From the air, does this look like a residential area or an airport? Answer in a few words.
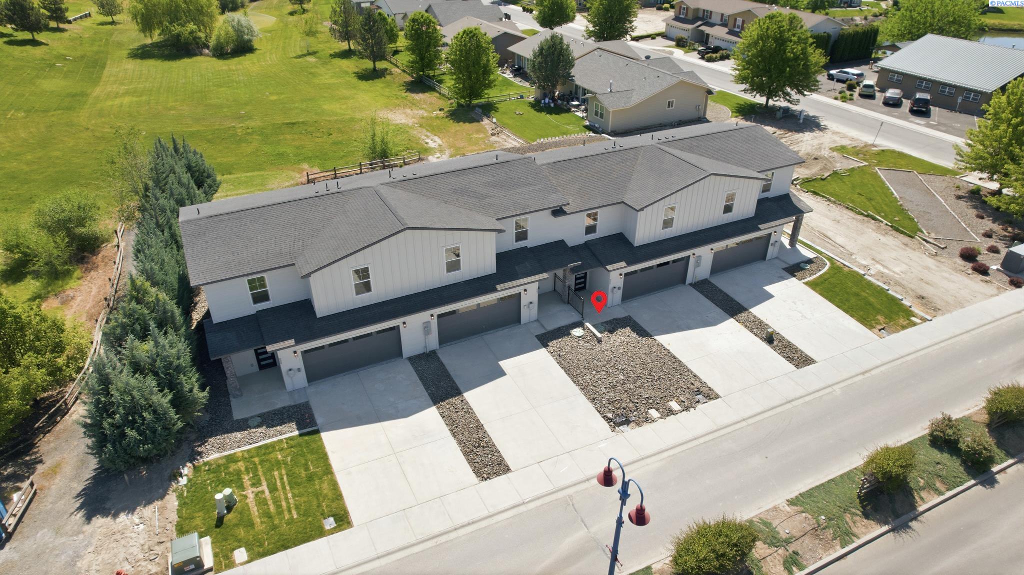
residential area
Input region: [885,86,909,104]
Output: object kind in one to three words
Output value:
car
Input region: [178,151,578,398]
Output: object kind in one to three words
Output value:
house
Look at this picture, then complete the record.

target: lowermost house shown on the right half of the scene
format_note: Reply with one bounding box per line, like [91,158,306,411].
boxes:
[525,120,816,308]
